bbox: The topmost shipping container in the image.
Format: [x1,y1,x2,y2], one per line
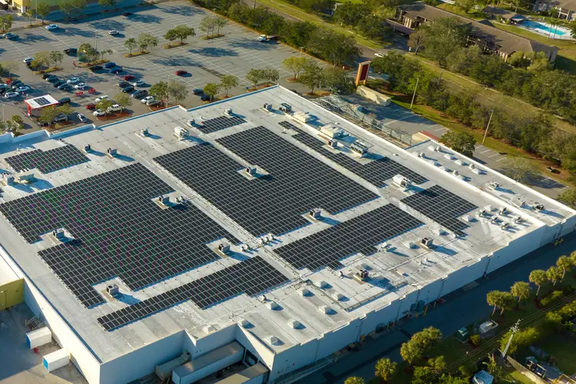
[24,325,56,351]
